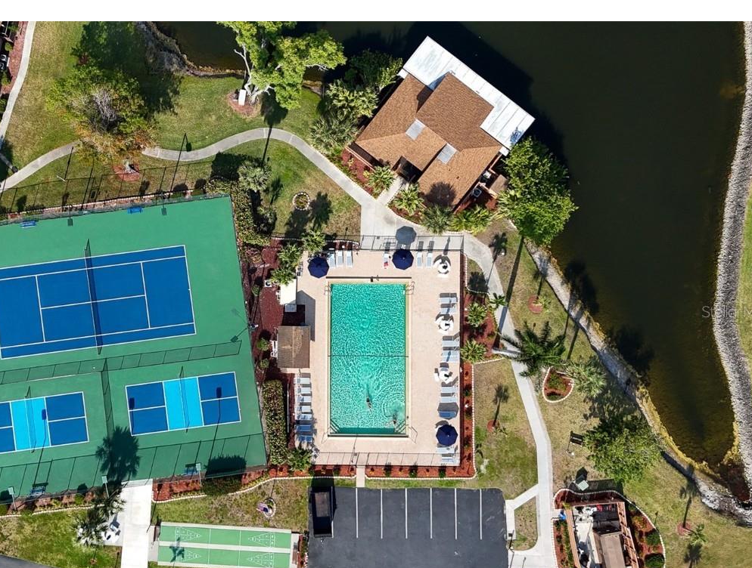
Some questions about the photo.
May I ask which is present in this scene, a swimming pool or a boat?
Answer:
swimming pool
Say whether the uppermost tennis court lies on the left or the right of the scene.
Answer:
left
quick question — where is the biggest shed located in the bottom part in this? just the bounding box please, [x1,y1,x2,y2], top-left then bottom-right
[278,326,310,368]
